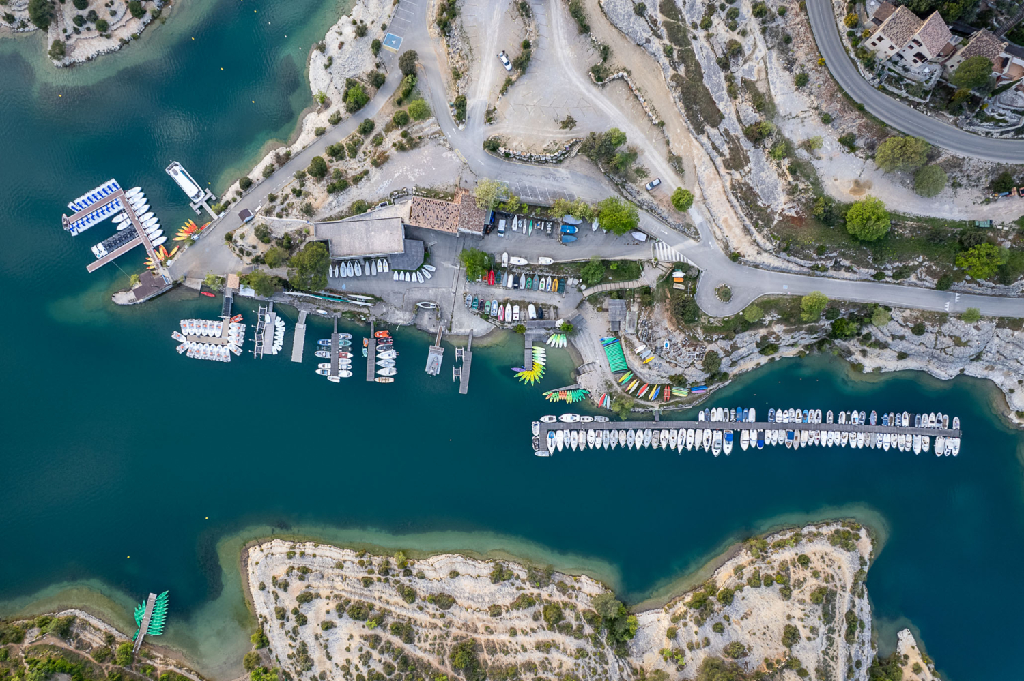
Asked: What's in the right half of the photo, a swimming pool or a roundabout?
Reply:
roundabout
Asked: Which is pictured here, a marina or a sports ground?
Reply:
marina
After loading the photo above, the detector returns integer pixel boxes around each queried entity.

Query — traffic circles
[696,266,751,316]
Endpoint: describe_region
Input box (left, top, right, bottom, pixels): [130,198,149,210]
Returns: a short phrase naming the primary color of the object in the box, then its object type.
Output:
white boat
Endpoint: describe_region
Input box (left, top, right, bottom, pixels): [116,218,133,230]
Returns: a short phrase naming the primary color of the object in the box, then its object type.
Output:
white boat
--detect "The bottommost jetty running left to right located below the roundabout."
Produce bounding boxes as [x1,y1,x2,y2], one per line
[539,409,961,451]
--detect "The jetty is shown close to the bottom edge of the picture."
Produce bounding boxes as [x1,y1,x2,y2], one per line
[132,593,157,655]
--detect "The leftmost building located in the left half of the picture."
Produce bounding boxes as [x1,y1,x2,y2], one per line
[133,270,178,301]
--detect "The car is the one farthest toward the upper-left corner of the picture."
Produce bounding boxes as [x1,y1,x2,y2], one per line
[497,49,514,72]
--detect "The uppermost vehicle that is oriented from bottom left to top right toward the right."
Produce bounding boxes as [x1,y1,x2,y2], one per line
[644,176,662,192]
